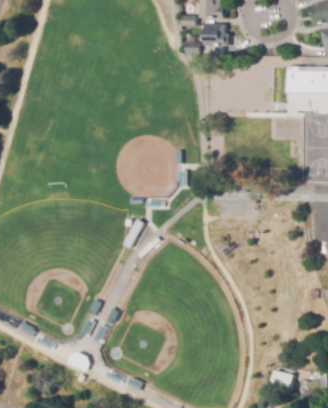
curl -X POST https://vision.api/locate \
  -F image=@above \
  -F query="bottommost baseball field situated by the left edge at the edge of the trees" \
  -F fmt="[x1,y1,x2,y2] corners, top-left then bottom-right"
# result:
[0,200,128,344]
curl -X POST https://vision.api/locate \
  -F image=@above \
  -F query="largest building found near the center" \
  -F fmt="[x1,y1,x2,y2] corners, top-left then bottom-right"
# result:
[122,217,145,248]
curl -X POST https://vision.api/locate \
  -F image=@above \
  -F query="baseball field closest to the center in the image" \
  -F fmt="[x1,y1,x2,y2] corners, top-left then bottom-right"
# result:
[117,134,180,197]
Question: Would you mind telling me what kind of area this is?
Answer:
sports ground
